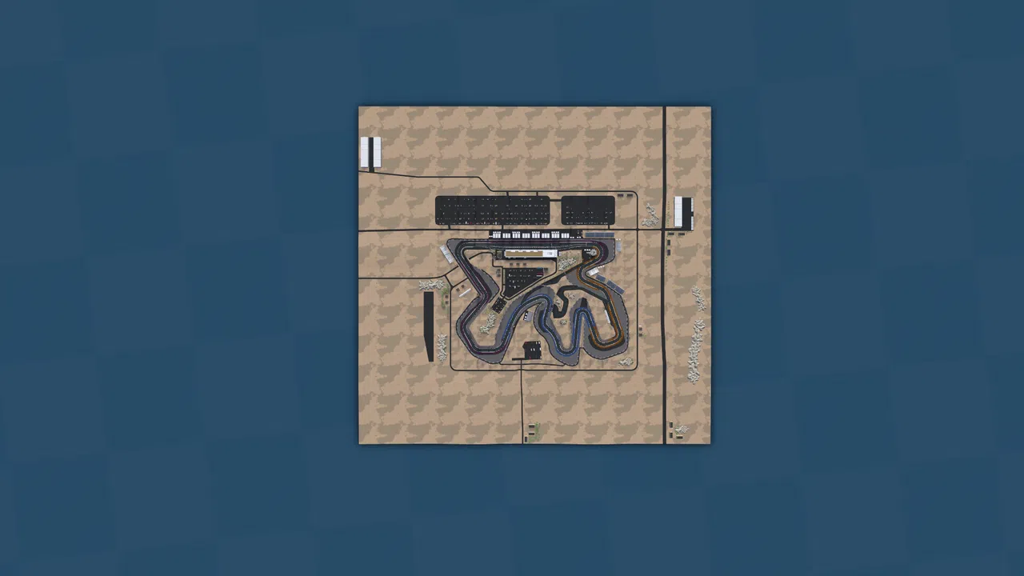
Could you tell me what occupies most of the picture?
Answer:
water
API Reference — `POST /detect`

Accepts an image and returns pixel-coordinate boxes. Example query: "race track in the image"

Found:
[458,243,621,354]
